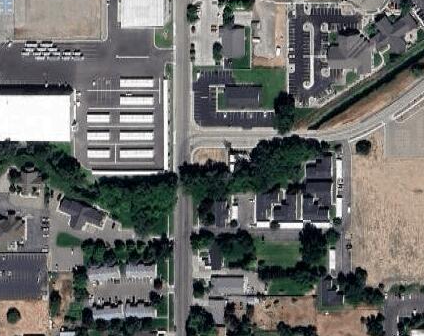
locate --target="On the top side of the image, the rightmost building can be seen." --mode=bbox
[364,14,418,55]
